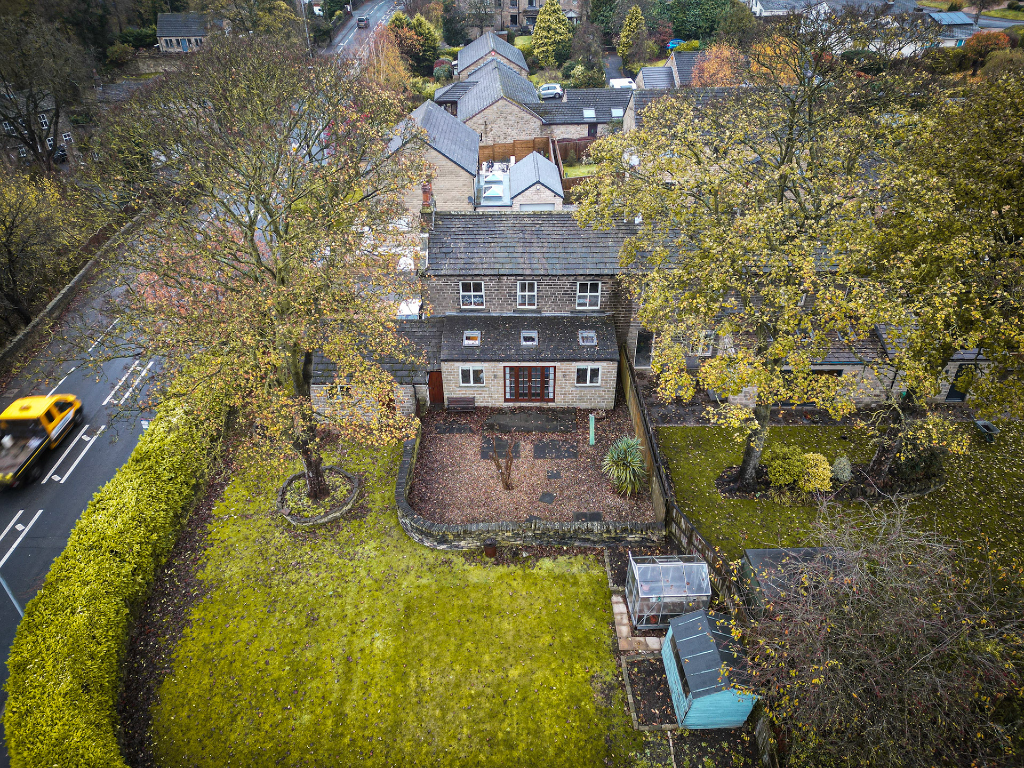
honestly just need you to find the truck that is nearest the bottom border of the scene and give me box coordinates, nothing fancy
[0,395,88,496]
